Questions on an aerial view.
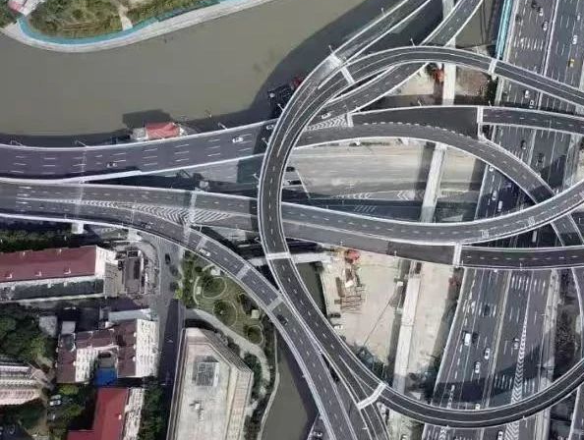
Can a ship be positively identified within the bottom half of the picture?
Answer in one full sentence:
No, no ship is visible within the bottom half of the picture.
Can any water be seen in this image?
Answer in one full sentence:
Yes, the picture does contain water.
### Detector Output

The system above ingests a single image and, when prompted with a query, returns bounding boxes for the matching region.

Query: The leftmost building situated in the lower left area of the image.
[0,364,47,401]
